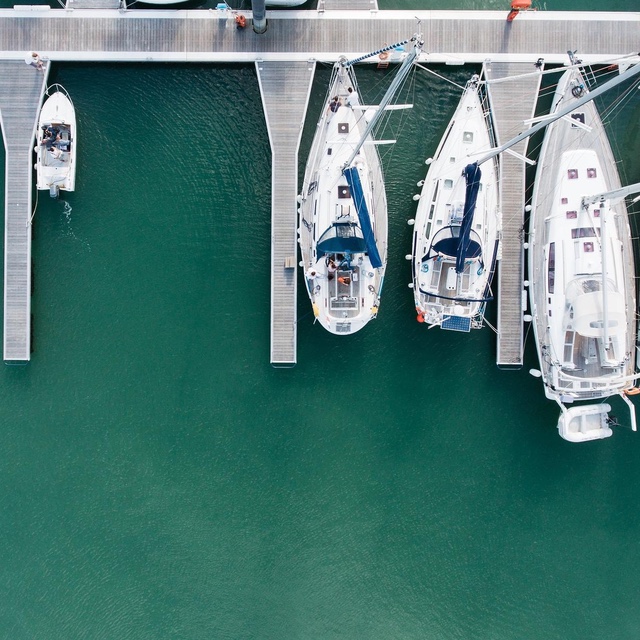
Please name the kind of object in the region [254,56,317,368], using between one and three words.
pier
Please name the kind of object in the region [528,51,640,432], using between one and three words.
boat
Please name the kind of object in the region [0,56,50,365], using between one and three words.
pier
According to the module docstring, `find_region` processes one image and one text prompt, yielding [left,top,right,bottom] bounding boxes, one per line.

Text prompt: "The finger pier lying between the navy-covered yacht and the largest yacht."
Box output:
[483,56,546,370]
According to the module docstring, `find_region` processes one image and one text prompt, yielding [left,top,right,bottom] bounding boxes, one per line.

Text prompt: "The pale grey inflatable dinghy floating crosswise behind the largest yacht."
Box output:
[558,404,618,442]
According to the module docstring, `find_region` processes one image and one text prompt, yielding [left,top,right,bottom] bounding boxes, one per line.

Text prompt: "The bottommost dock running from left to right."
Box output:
[0,10,640,63]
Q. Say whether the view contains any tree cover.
No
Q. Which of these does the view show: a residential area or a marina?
marina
